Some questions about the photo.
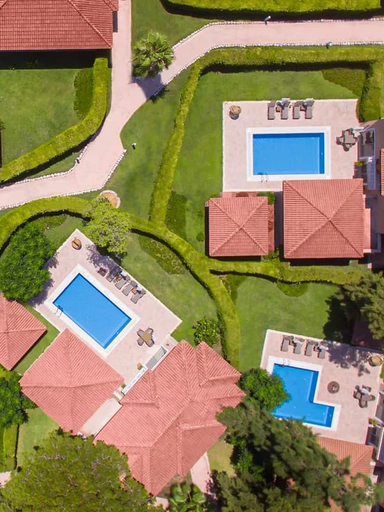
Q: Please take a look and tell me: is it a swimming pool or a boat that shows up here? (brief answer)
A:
swimming pool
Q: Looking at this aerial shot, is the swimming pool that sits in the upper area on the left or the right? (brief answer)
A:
right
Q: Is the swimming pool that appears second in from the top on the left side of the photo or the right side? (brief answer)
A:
left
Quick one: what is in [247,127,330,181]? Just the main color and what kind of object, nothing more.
blue swimming pool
